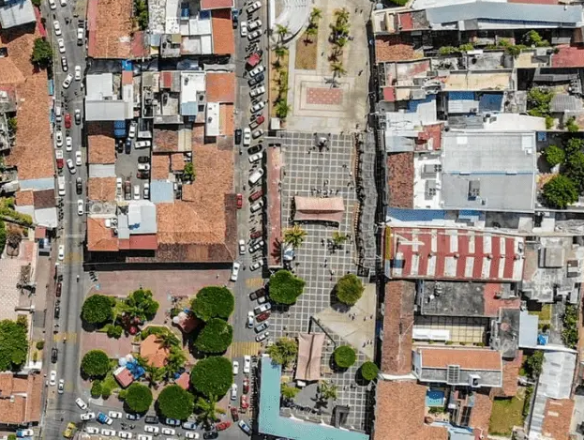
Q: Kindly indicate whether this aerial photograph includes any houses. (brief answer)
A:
Yes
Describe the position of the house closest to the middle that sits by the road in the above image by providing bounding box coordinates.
[265,143,283,266]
